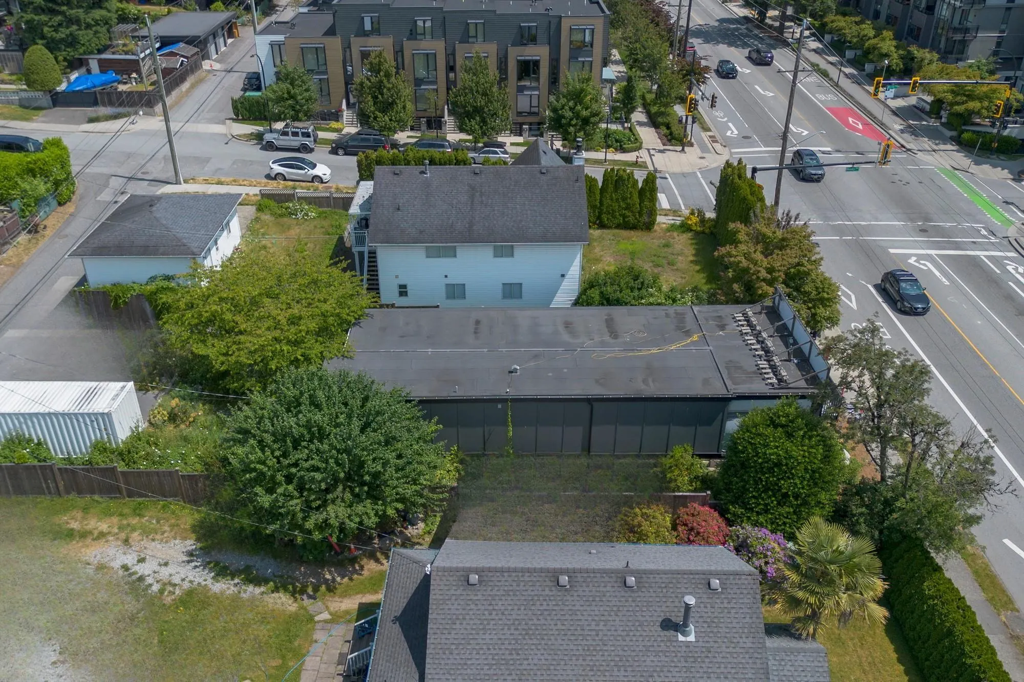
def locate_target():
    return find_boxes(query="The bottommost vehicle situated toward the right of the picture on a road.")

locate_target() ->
[882,266,937,312]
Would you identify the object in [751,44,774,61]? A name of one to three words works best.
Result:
car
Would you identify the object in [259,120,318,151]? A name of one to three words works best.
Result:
car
